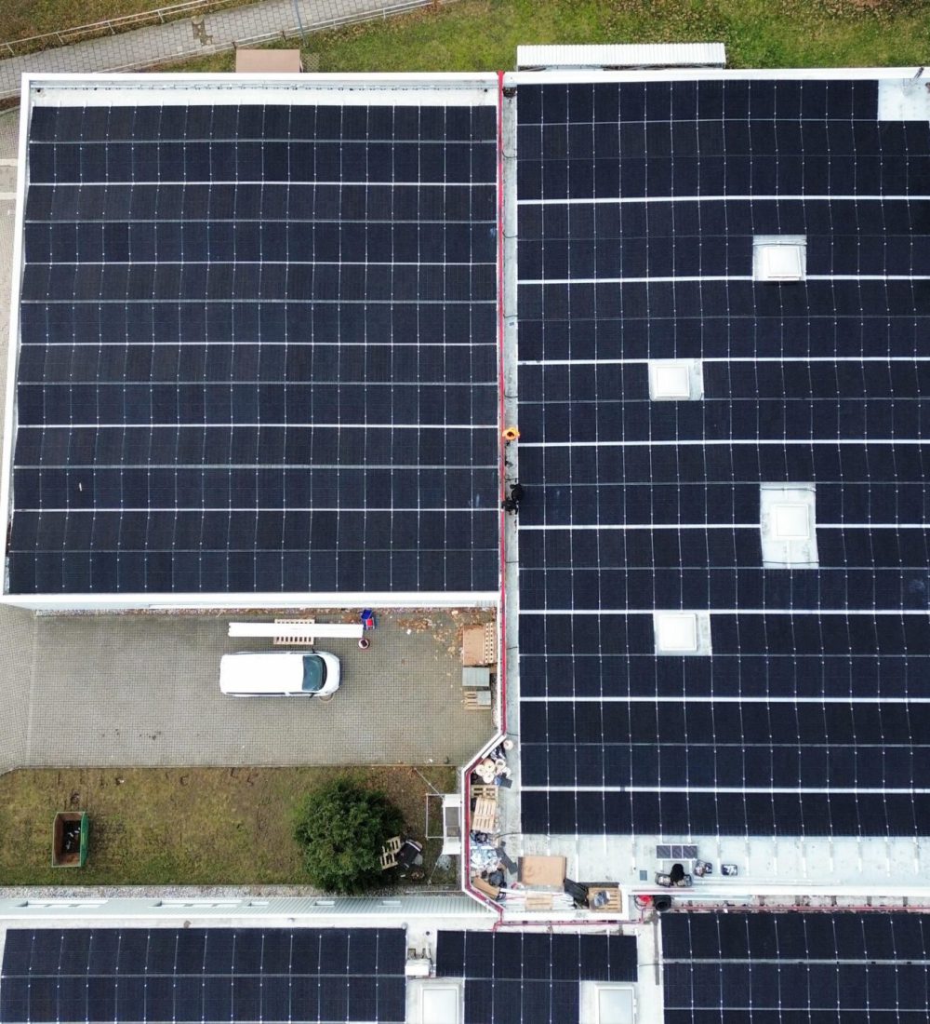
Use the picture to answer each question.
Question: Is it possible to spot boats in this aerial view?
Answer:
No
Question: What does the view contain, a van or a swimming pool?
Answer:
van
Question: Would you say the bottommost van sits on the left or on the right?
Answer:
left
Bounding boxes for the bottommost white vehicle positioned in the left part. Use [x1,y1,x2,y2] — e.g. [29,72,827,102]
[220,646,343,700]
